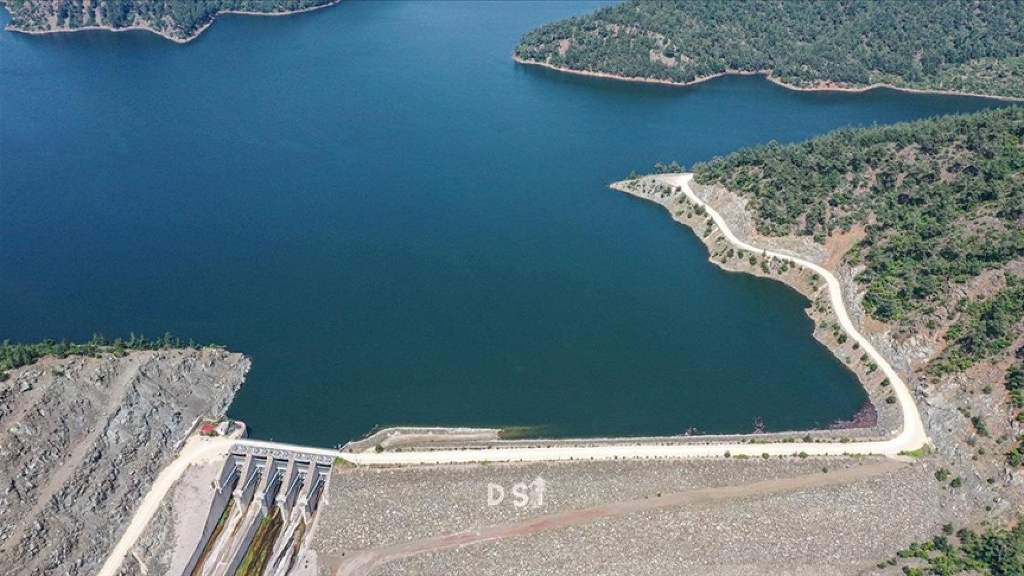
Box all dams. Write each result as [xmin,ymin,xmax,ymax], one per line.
[307,432,945,576]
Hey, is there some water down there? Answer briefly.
Yes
